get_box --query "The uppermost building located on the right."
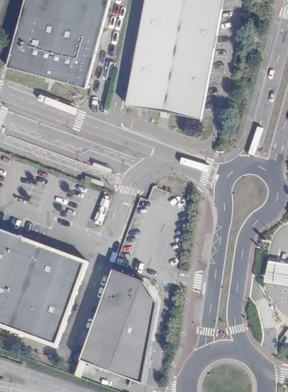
[124,0,226,122]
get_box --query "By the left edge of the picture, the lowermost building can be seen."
[0,228,92,346]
